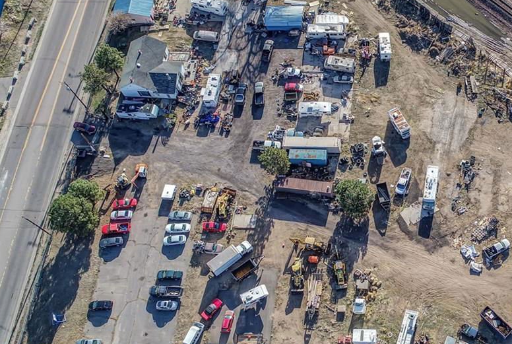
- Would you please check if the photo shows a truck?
Yes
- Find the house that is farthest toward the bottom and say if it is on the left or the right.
left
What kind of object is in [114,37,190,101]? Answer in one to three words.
house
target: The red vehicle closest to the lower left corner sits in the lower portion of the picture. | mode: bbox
[101,220,132,234]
